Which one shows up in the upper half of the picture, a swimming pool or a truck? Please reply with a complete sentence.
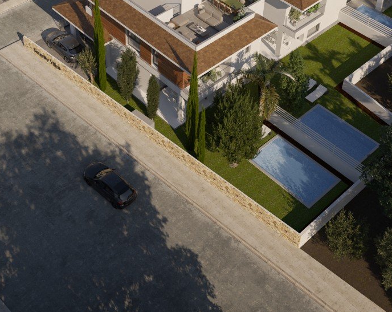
Visible in the upper half of the picture is a swimming pool.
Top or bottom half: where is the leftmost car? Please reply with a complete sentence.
It is in the top half that the leftmost car appears.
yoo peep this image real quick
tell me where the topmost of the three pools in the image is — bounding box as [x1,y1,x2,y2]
[364,13,392,39]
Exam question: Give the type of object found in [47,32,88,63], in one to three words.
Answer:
car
